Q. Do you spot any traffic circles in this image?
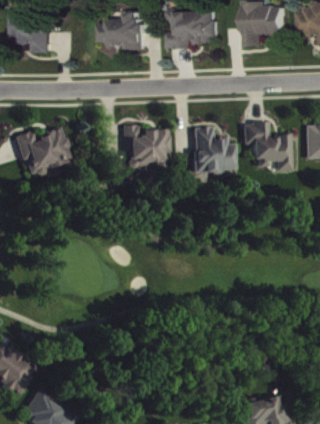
No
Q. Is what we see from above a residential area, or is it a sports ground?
residential area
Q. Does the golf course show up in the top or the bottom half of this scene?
bottom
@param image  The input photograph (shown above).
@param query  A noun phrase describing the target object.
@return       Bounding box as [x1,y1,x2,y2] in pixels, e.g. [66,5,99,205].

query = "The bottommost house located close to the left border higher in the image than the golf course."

[12,124,76,175]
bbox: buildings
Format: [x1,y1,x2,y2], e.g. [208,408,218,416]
[236,0,281,48]
[245,392,295,424]
[0,344,32,394]
[6,15,48,52]
[244,120,298,176]
[306,126,320,158]
[12,124,76,175]
[26,386,78,424]
[162,2,216,50]
[191,124,240,182]
[96,8,142,50]
[290,0,320,54]
[124,124,178,170]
